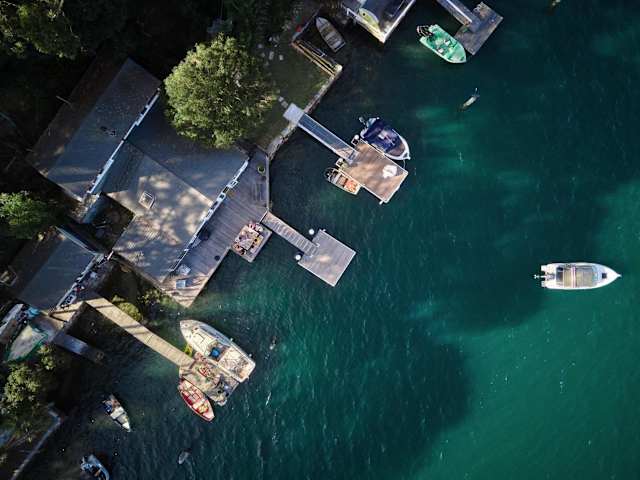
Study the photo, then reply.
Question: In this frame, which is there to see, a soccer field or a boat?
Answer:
boat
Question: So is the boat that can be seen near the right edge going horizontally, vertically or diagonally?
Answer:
horizontally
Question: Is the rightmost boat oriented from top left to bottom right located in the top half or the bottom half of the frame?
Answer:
top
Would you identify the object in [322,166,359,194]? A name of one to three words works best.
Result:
boat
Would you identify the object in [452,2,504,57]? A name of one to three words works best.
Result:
pier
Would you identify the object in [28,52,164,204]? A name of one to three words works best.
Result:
house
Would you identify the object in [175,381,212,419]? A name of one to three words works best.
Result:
boat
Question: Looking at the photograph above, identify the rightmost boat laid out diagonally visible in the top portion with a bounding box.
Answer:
[414,23,469,64]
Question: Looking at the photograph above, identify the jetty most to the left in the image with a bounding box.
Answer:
[76,293,194,367]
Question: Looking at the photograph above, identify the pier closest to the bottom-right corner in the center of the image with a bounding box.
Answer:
[298,229,357,288]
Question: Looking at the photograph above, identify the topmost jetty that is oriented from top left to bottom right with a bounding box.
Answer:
[435,0,481,32]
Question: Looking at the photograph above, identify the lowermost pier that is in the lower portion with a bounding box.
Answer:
[178,353,241,405]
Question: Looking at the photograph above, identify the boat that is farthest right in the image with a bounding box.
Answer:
[529,262,625,290]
